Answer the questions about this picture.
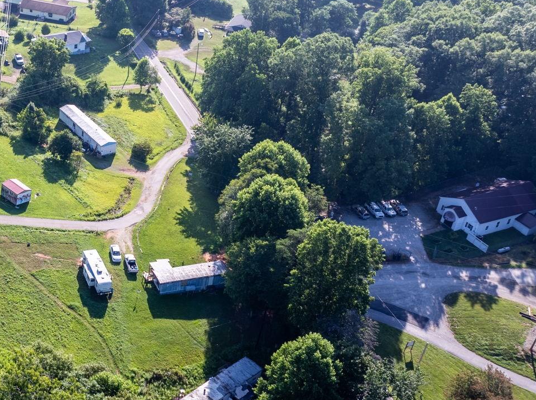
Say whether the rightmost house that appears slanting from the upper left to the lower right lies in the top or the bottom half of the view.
top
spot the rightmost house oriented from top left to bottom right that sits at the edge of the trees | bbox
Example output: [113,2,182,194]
[58,104,118,158]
